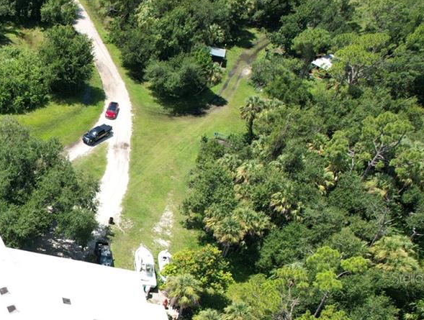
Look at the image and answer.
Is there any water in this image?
No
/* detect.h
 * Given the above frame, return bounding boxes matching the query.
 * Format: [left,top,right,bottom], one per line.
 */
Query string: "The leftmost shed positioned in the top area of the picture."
[206,44,233,64]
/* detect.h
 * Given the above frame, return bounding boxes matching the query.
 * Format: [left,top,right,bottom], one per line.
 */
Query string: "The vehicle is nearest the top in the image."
[105,101,118,117]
